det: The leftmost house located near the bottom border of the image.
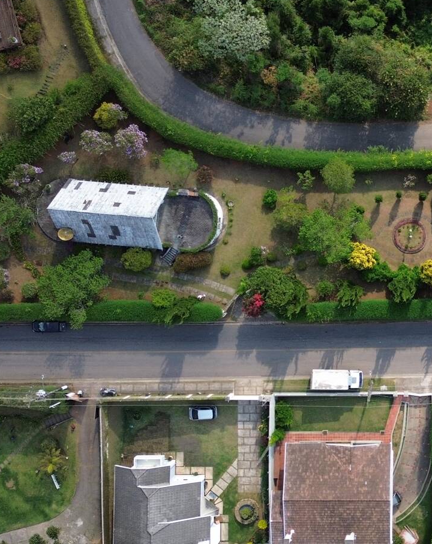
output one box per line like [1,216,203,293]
[110,448,228,544]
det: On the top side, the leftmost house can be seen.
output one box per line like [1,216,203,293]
[46,175,169,250]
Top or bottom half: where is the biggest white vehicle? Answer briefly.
bottom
